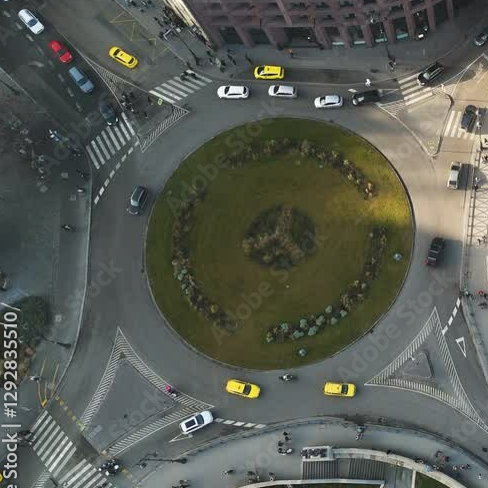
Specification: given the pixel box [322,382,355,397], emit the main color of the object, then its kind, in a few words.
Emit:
yellow car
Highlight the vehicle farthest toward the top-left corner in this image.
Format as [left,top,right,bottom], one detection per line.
[14,5,42,31]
